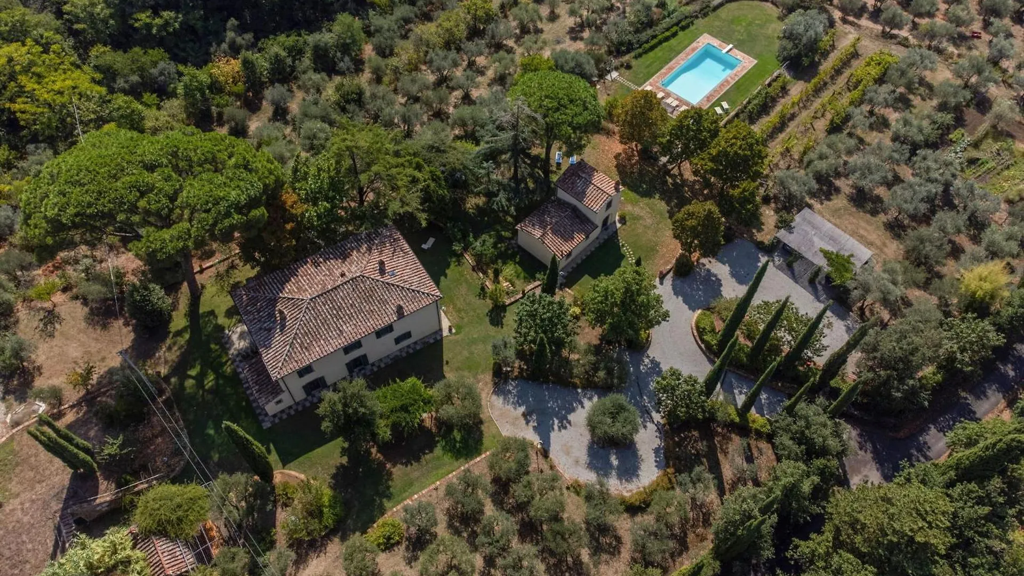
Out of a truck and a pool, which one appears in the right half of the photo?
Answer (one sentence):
It is a pool that can be seen in the right half of the photo.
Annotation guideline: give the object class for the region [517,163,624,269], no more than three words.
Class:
house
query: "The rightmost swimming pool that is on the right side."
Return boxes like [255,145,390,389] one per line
[638,33,759,116]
